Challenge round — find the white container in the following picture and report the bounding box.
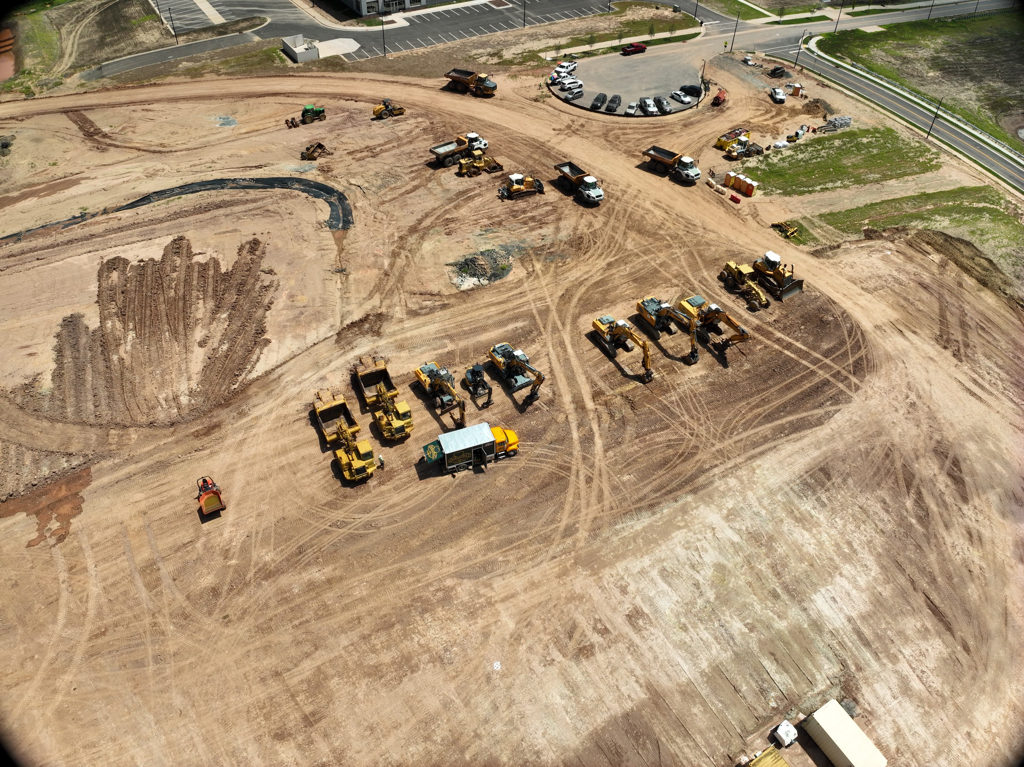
[804,697,894,767]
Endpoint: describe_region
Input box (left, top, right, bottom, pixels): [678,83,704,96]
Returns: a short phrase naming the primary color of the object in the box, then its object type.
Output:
black vehicle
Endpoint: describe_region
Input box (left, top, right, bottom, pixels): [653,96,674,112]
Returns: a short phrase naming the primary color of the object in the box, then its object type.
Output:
gray vehicle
